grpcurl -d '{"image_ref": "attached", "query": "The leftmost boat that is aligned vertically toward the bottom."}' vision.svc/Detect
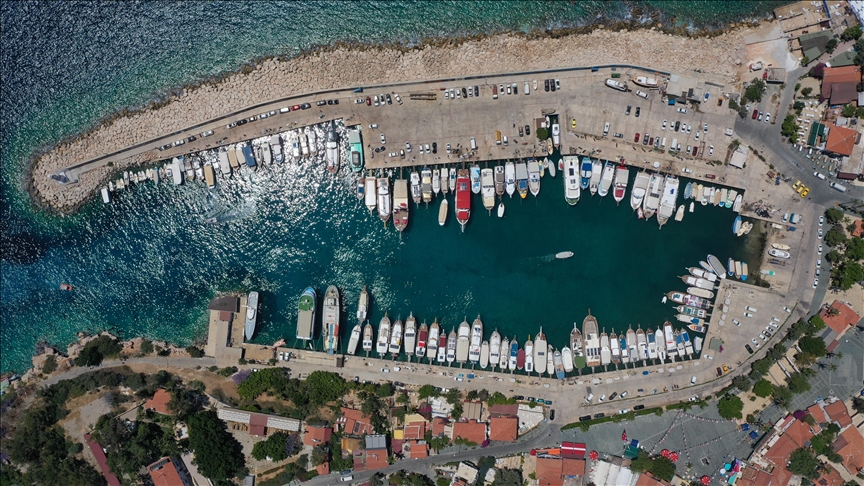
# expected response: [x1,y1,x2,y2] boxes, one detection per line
[245,291,259,341]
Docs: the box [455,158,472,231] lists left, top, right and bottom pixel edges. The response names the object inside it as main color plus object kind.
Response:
red boat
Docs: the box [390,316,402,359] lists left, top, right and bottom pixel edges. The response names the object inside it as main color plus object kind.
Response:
white boat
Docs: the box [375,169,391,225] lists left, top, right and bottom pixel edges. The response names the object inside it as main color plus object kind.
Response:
white boat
